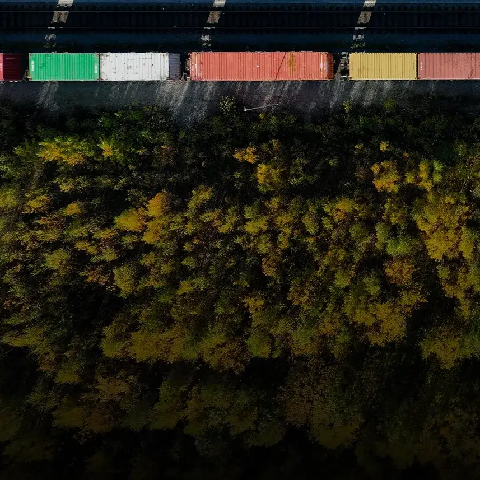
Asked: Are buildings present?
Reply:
No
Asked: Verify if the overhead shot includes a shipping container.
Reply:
Yes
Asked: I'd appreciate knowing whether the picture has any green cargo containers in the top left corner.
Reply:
Yes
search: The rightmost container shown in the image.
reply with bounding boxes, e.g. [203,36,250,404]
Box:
[418,53,480,80]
